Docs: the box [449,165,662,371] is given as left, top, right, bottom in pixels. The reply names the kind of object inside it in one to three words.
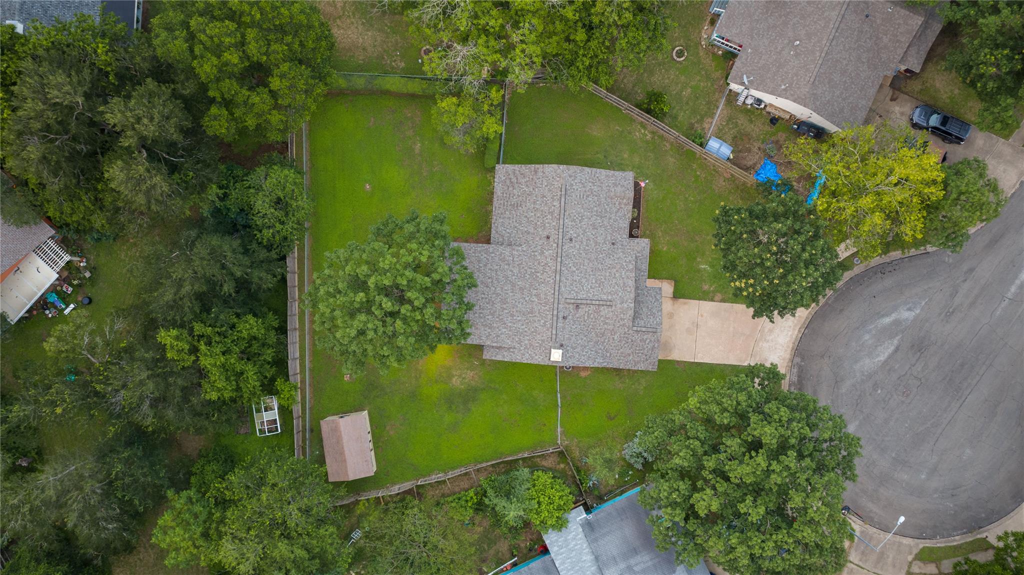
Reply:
house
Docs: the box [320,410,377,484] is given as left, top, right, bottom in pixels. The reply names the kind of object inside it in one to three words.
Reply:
shed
